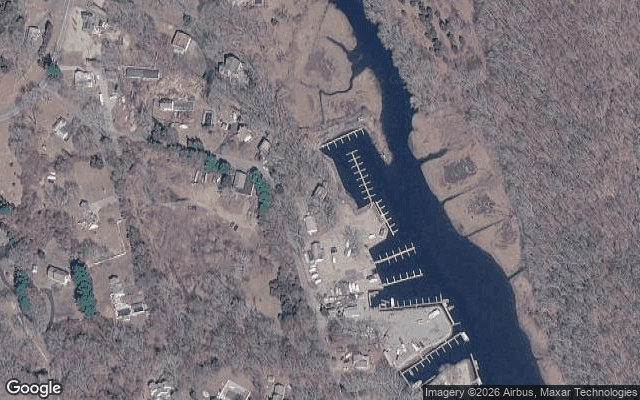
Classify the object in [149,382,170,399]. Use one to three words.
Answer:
house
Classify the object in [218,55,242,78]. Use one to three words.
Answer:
house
